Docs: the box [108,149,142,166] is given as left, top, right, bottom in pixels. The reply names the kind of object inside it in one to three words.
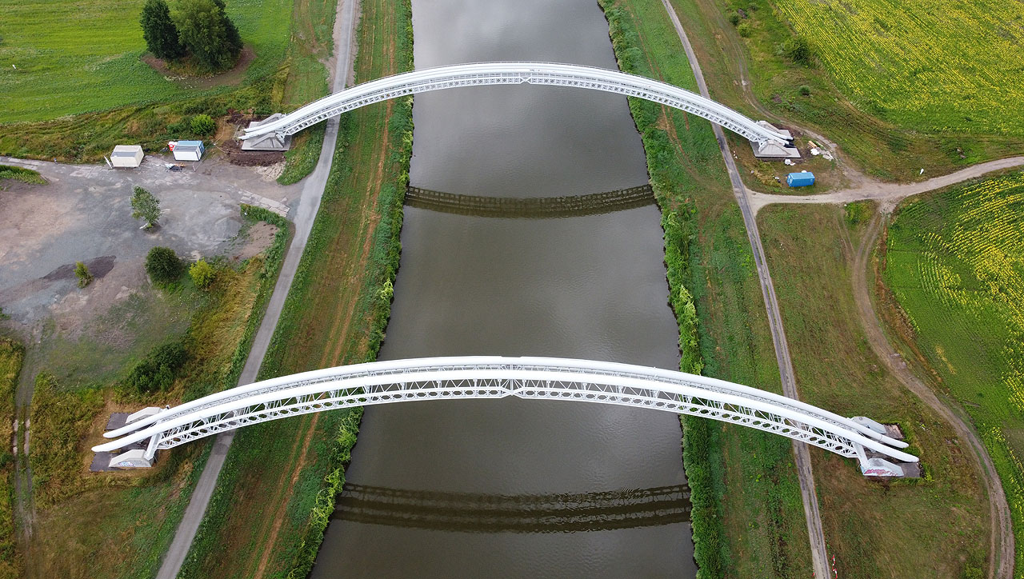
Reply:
building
